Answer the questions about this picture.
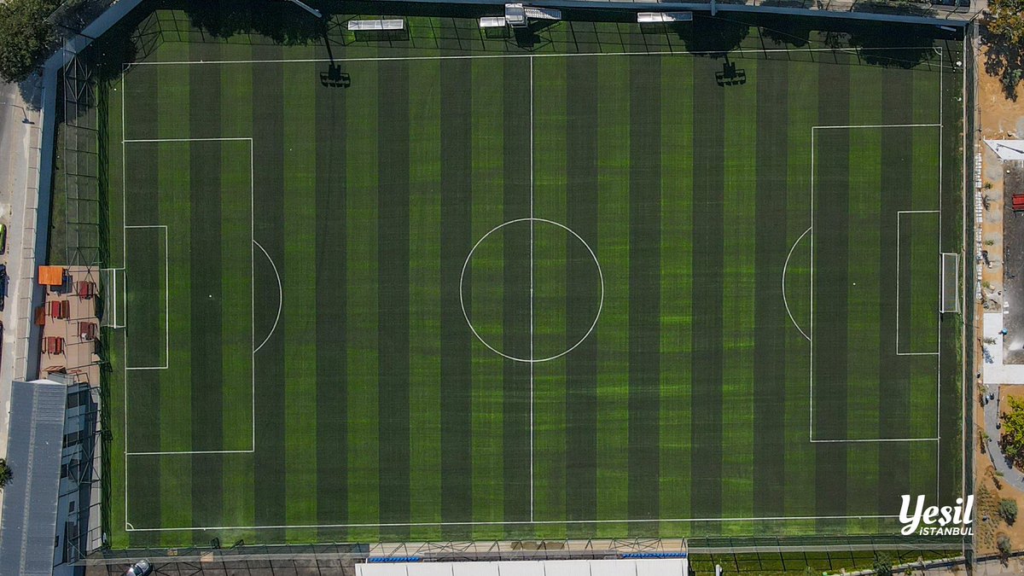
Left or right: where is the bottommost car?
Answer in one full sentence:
The bottommost car appears in the left half of the scene.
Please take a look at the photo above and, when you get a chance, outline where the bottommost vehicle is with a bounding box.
[123,556,157,576]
